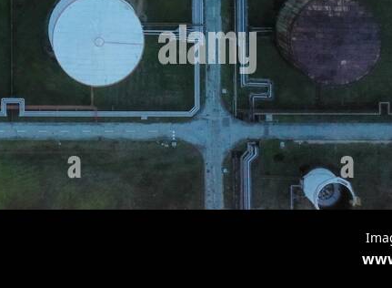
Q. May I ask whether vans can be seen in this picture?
No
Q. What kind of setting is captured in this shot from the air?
industrial area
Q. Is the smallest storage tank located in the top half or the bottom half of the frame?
bottom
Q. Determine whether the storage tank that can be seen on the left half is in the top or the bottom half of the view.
top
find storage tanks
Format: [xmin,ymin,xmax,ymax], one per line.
[45,0,145,86]
[274,0,382,84]
[299,164,360,219]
